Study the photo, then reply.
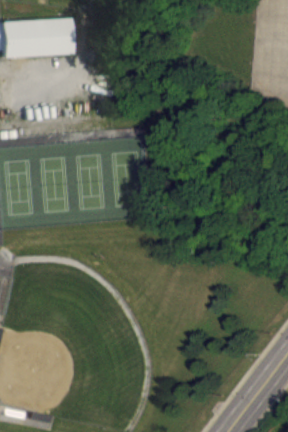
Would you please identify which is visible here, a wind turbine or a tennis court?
tennis court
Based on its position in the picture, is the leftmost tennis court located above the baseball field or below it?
above it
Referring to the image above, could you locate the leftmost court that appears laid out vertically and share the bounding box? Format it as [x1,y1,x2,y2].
[4,159,32,215]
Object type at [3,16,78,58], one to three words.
building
